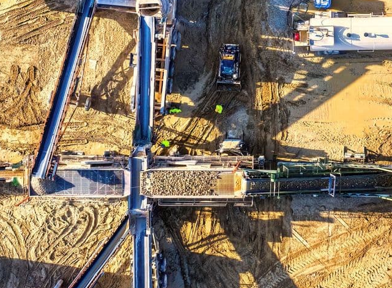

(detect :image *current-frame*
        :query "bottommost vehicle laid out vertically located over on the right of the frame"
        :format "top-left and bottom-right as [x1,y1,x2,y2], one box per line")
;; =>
[222,100,249,156]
